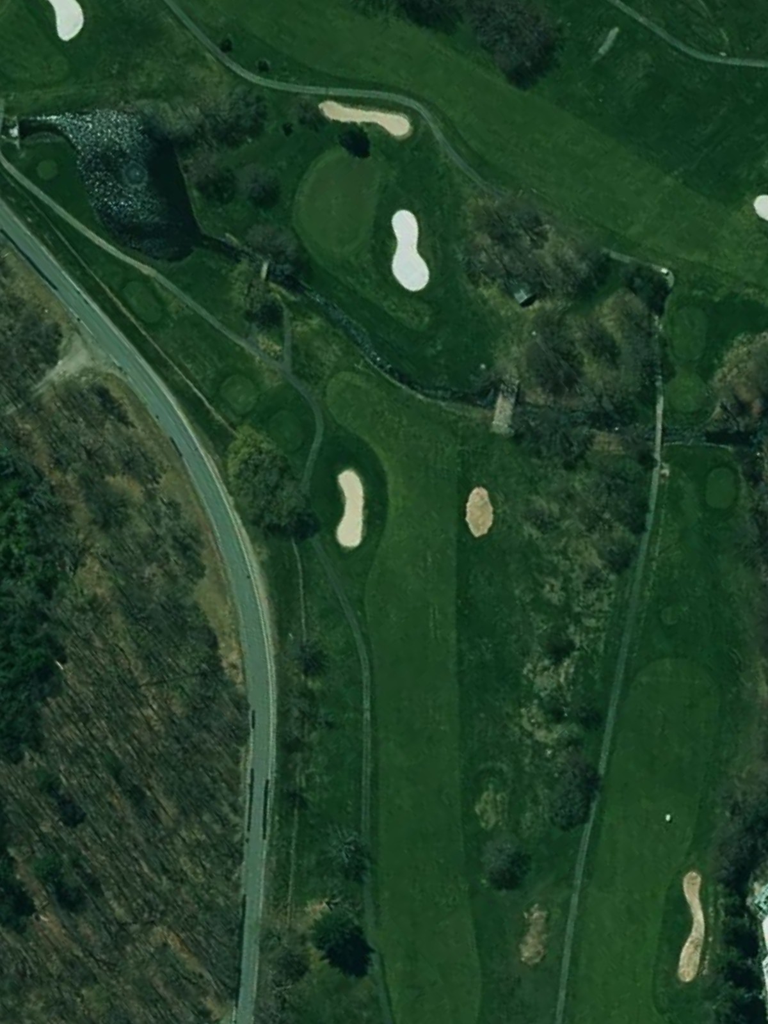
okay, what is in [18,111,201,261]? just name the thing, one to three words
pond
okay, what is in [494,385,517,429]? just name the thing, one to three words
bridge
